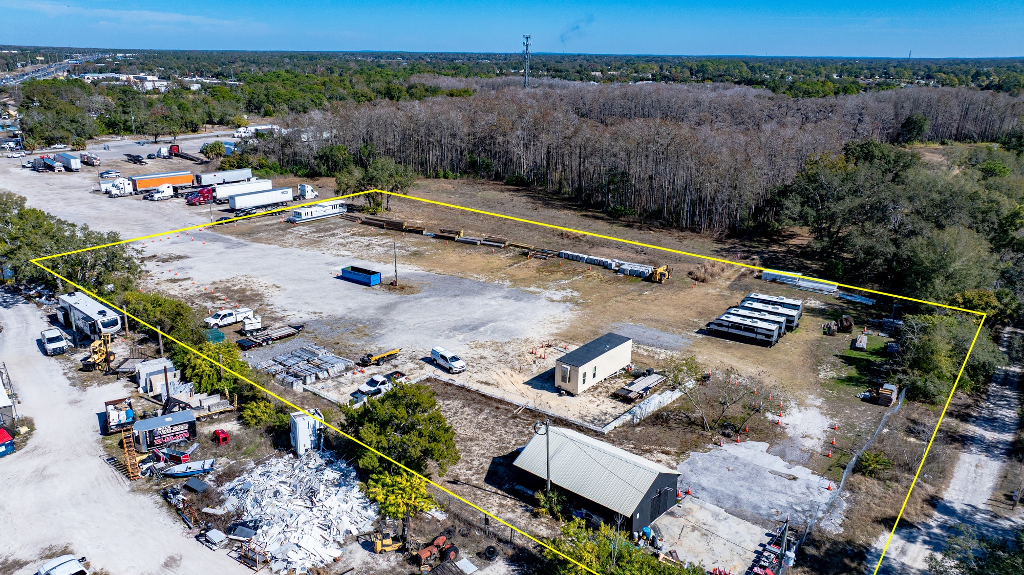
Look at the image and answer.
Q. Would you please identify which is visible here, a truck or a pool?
truck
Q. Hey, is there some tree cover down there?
Yes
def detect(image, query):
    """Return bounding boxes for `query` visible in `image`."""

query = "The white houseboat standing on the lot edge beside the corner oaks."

[282,201,340,222]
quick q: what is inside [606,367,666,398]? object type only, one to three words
trailer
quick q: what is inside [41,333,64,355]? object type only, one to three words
truck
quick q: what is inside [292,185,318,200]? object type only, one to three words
vehicle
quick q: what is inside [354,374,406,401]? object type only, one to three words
truck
